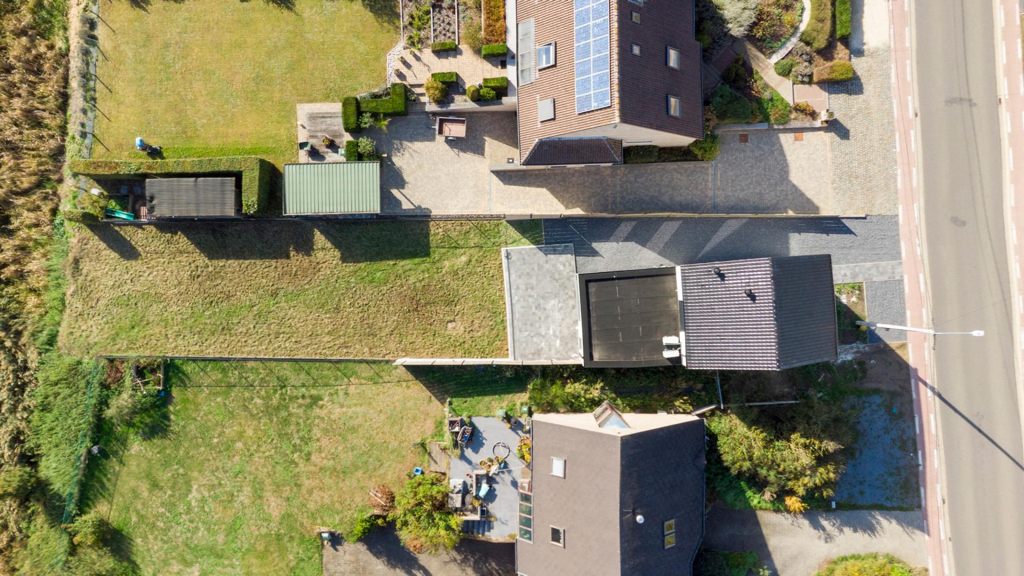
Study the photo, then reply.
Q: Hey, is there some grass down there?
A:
Yes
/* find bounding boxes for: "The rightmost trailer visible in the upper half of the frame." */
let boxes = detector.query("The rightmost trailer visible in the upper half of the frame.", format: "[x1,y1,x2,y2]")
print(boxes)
[430,112,467,142]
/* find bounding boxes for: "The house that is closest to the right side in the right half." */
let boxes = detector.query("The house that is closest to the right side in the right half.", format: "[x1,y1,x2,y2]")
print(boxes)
[666,255,838,371]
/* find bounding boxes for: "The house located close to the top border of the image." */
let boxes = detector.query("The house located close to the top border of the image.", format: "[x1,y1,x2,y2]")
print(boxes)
[512,0,705,171]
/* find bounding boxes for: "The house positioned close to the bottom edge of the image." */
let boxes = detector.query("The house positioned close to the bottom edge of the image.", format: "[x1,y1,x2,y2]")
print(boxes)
[515,401,706,576]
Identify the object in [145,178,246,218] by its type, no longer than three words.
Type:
shed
